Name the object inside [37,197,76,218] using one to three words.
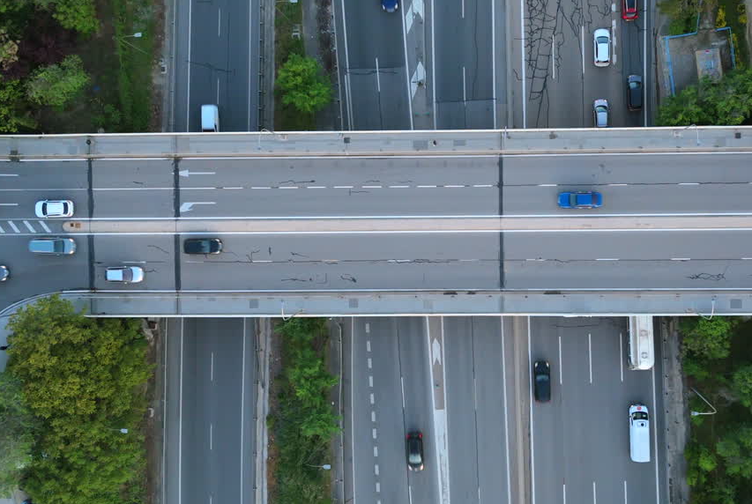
car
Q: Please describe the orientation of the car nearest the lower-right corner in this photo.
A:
from top to bottom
